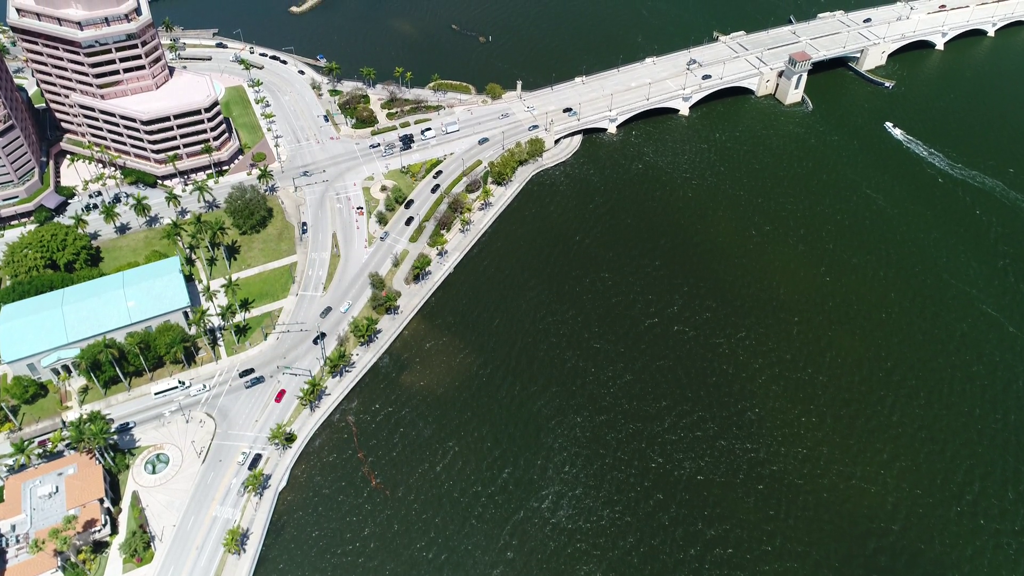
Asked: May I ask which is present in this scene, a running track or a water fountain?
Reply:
water fountain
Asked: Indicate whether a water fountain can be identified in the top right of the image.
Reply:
No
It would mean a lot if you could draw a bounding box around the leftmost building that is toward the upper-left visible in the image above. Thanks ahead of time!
[0,77,65,224]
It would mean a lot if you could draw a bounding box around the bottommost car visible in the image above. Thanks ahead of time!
[235,479,250,498]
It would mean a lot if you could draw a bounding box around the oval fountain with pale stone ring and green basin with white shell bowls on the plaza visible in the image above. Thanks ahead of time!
[132,443,183,488]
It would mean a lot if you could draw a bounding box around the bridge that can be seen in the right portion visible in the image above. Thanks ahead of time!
[487,0,1024,167]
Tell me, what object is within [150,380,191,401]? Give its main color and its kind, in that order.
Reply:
white vehicle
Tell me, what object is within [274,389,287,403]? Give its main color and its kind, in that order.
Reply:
red vehicle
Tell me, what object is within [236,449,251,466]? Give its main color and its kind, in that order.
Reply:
white car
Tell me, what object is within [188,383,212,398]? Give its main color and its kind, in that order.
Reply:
white vehicle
